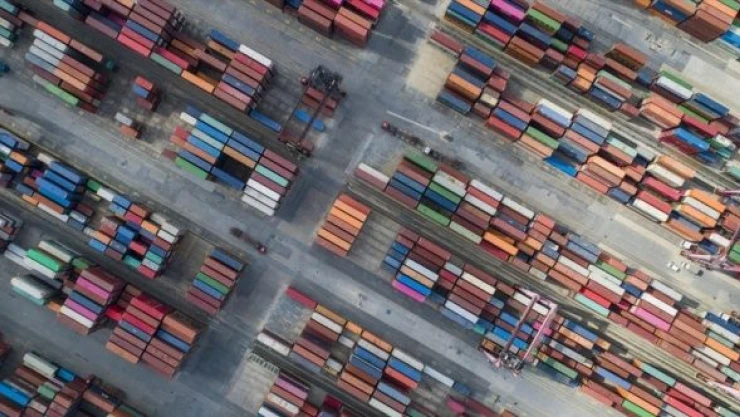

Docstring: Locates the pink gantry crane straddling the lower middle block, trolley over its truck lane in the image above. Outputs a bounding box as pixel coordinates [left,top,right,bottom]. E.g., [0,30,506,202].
[486,283,561,377]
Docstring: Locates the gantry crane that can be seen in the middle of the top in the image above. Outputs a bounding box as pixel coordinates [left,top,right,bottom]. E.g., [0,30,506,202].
[278,58,348,156]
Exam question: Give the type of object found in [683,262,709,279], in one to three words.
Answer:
vehicle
